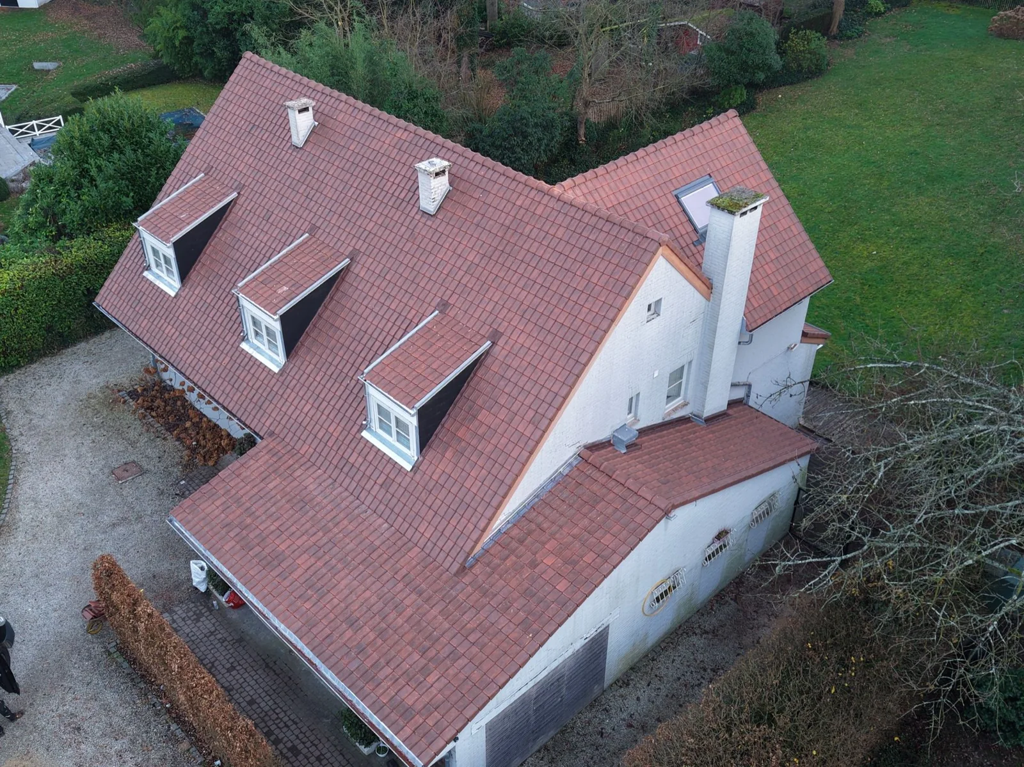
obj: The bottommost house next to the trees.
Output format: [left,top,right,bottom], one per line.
[87,54,841,767]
